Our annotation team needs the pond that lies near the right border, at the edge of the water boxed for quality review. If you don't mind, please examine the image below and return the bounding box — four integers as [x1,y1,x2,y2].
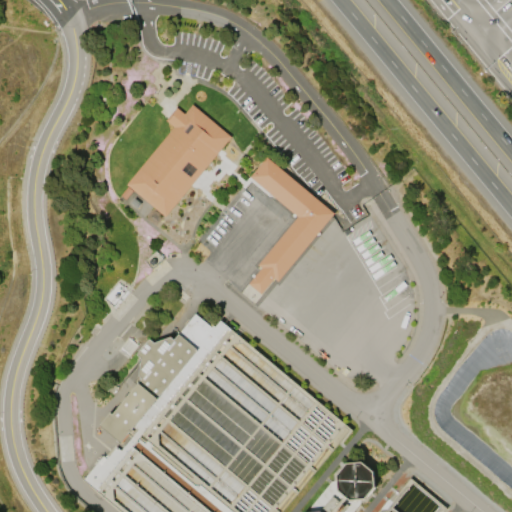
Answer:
[434,326,512,489]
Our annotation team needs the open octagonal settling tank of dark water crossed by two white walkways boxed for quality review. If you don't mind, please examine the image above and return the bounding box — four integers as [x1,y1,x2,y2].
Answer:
[338,462,374,500]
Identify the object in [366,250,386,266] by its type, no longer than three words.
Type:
vehicle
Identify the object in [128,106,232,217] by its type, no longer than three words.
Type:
building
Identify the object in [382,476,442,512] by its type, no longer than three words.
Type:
storage tank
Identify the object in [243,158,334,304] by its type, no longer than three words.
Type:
building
